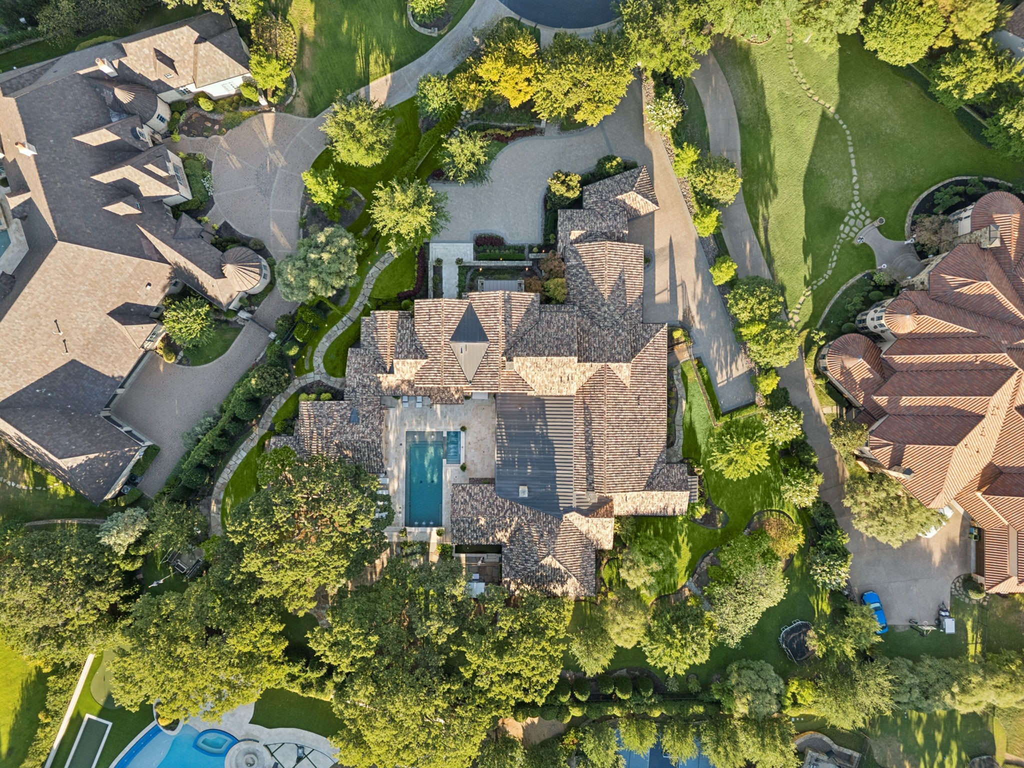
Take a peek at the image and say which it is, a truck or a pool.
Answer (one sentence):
The one in the frame is a pool.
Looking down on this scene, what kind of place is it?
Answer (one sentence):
The area seen from above is a residential area.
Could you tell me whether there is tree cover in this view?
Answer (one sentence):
Yes, there's tree cover in this view.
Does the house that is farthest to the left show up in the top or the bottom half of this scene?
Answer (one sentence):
The top half of the photo is where the house that is farthest to the left is.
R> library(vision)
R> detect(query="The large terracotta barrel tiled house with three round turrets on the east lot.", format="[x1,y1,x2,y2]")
[816,191,1024,594]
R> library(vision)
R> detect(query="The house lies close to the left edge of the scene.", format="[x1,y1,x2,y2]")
[0,12,271,506]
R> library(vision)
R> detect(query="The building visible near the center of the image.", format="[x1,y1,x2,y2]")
[270,164,699,597]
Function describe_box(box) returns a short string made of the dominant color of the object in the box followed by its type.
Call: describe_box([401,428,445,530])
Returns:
blue swimming pool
